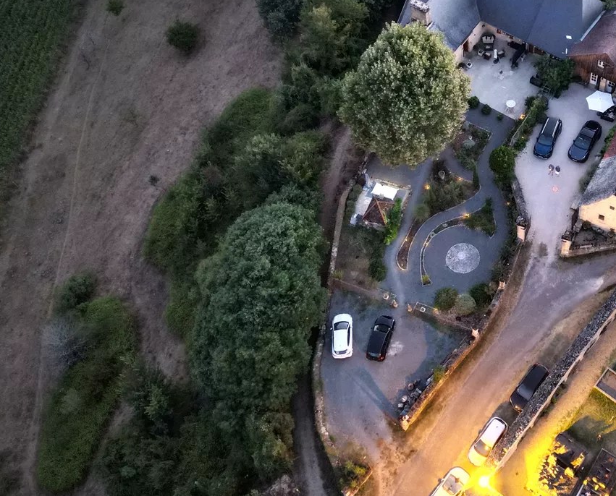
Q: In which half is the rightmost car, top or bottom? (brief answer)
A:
top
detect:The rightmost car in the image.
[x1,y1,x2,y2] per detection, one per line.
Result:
[571,121,601,163]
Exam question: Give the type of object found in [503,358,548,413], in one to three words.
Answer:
car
